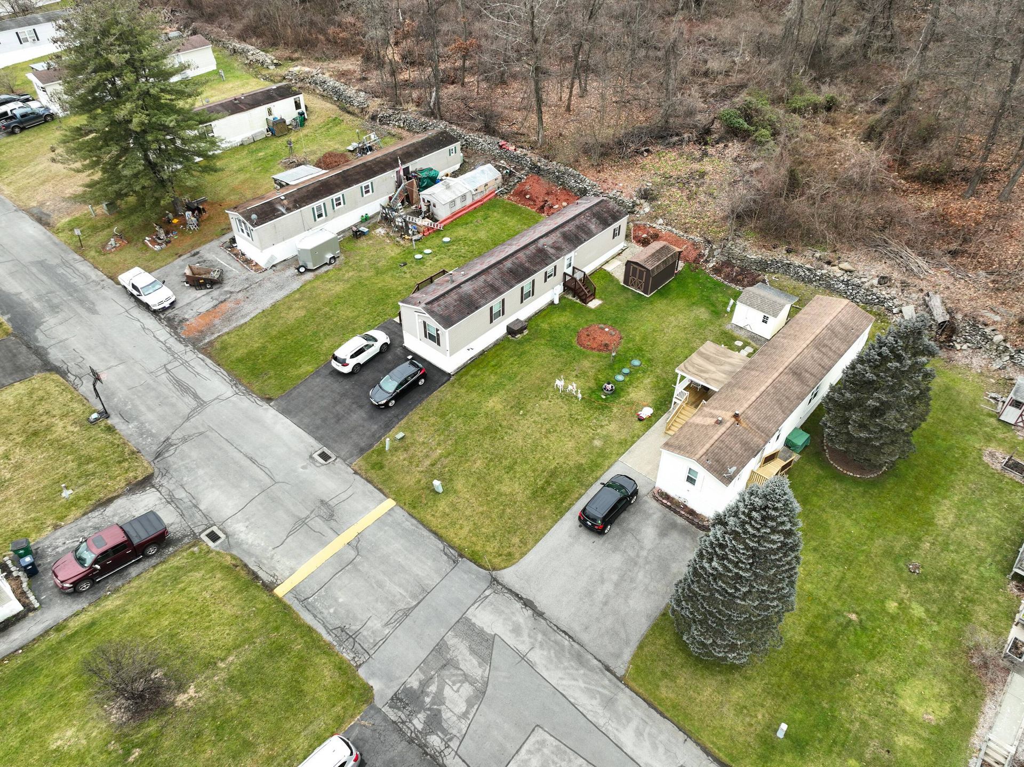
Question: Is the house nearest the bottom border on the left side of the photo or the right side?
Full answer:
You can find the house nearest the bottom border on the left side of the picture.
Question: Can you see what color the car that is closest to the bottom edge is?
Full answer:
The car that is closest to the bottom edge looks white in the image.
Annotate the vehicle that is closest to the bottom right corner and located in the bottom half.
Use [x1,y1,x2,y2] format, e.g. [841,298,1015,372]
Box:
[579,475,642,539]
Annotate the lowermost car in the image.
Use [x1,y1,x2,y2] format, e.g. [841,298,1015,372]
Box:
[297,736,364,767]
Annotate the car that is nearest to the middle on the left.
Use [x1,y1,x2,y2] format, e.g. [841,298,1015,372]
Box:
[371,359,427,408]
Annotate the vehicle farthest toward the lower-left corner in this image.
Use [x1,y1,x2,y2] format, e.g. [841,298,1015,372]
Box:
[52,511,170,595]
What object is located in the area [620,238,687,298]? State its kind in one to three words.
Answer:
shed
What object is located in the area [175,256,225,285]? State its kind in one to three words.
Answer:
trailer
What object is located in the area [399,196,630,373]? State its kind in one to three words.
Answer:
house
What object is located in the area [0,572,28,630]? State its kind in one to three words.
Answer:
house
